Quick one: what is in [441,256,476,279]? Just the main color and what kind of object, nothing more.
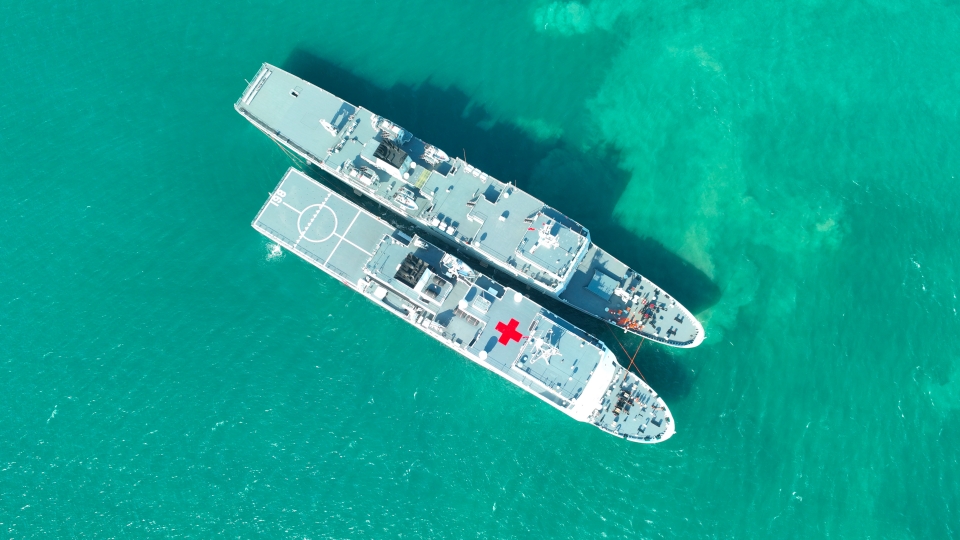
white boat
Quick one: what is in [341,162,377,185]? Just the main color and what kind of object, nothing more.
white boat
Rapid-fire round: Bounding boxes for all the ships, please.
[248,167,682,442]
[232,64,708,349]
